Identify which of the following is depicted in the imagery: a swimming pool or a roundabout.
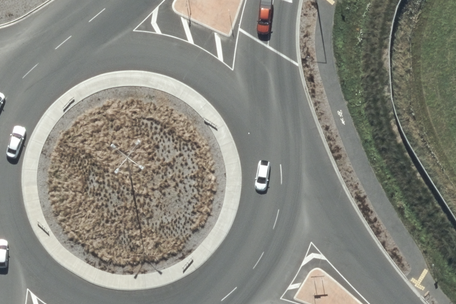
roundabout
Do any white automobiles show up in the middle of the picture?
Yes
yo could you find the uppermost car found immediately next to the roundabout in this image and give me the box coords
[6,126,25,160]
